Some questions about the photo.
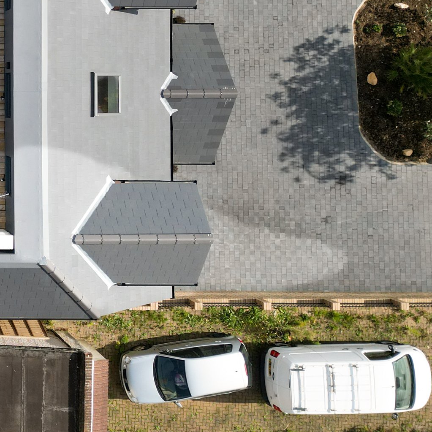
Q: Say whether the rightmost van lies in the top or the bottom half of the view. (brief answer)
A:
bottom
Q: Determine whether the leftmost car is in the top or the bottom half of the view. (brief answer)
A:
bottom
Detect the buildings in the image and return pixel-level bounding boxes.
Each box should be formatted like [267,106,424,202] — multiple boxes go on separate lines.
[0,0,238,323]
[0,344,104,432]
